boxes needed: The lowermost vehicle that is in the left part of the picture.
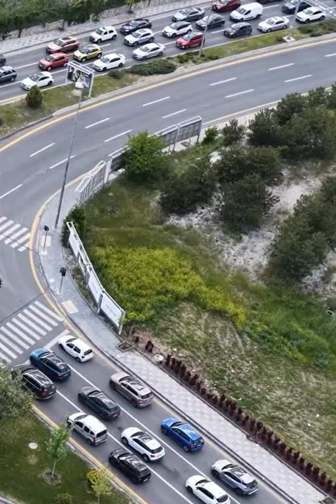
[105,450,154,483]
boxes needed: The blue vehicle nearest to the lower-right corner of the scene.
[158,419,207,452]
